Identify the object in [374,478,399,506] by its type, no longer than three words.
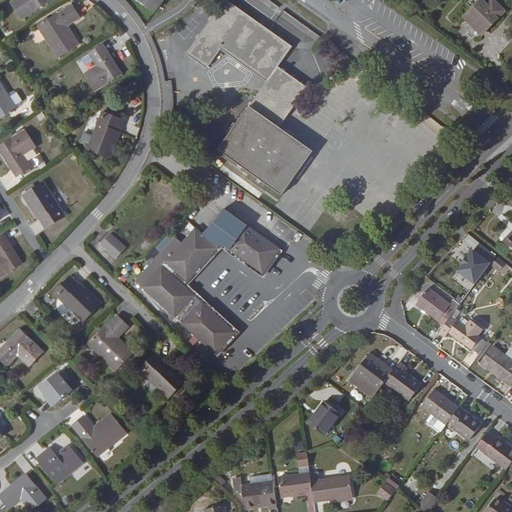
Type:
barn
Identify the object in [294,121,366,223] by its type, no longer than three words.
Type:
sports court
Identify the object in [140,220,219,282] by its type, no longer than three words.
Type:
building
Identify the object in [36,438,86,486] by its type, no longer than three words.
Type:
house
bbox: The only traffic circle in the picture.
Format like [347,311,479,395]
[322,270,384,332]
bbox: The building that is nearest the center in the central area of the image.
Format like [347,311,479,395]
[228,226,282,276]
